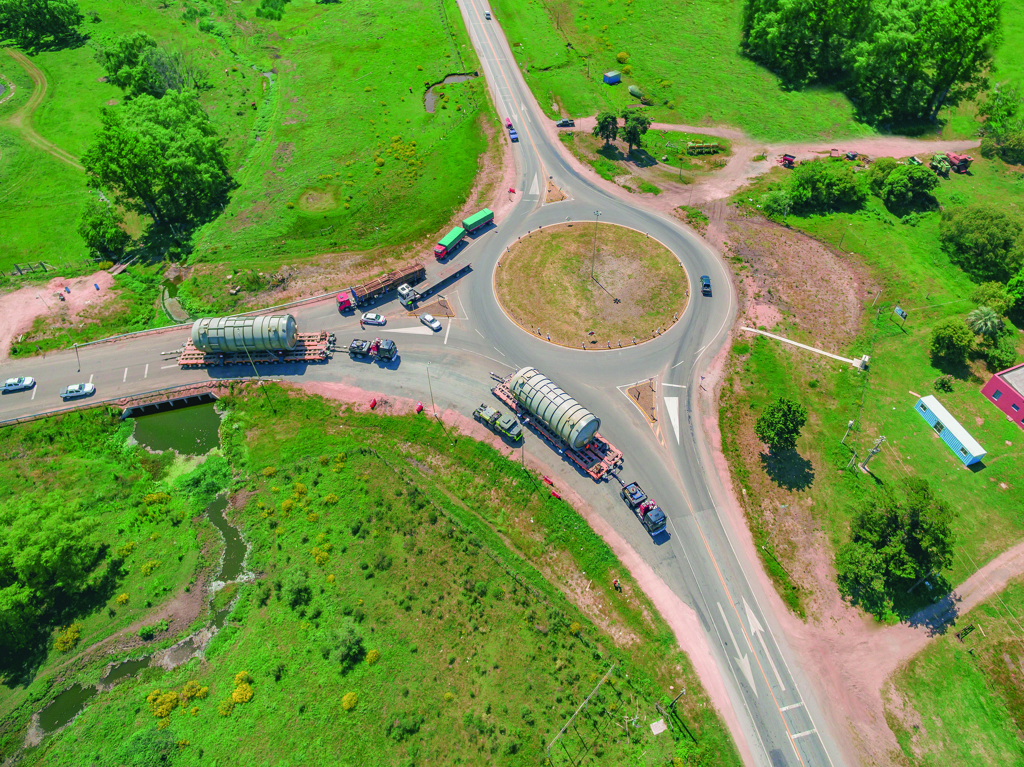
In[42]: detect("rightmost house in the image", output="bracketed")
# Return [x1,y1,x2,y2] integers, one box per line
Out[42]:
[981,364,1024,429]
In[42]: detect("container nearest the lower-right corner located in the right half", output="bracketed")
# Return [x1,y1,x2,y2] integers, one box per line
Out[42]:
[915,394,989,466]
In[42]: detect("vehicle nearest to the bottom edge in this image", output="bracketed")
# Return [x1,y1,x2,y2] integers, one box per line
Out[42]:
[618,481,672,539]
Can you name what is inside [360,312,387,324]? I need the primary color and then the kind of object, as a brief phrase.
white vehicle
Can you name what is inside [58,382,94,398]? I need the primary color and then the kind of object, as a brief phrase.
white vehicle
